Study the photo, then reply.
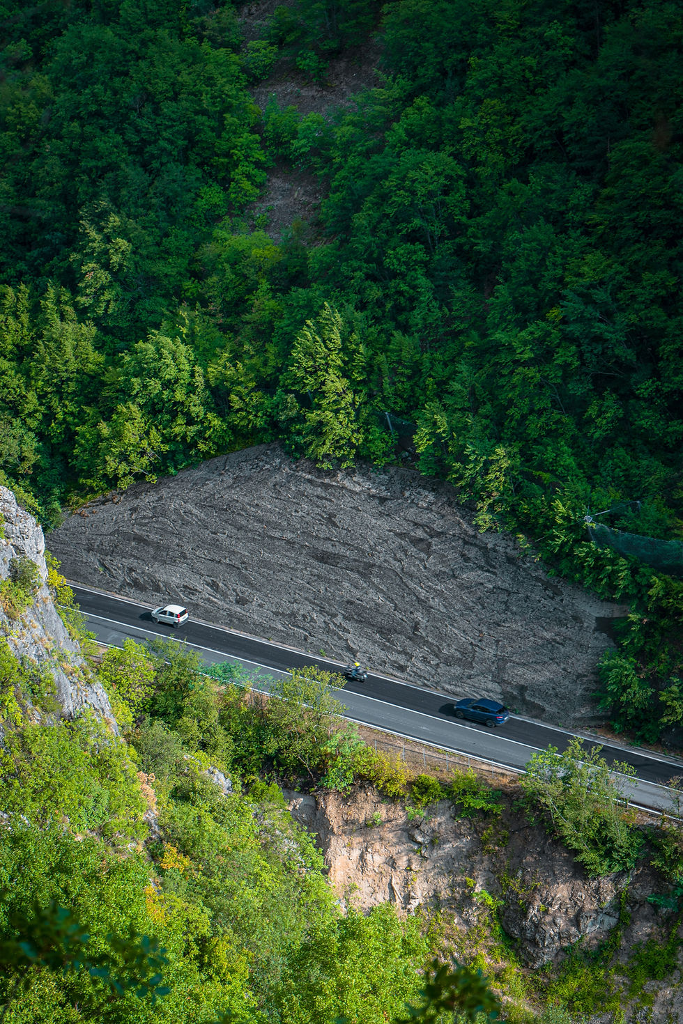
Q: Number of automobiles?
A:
2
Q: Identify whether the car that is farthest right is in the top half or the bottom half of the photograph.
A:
bottom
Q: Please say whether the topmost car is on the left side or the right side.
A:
left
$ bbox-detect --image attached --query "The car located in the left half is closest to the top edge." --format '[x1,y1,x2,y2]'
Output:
[152,606,189,629]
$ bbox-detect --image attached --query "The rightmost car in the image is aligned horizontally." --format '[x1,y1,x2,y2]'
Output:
[452,697,508,728]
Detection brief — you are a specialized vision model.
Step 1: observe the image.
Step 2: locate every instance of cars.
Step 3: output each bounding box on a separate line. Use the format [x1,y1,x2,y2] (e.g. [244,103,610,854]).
[152,606,189,629]
[452,697,508,728]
